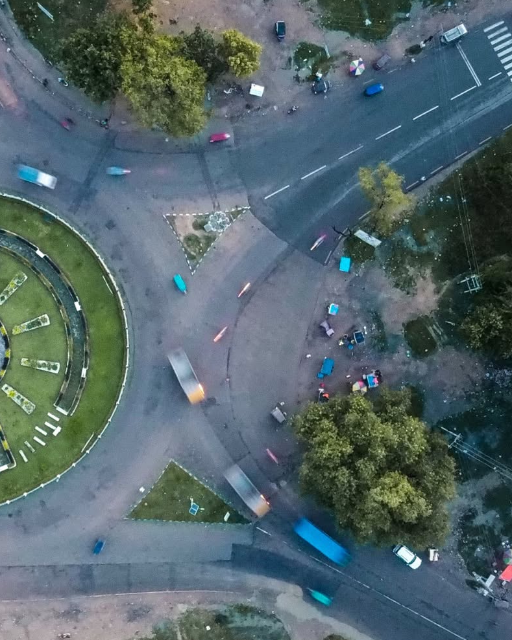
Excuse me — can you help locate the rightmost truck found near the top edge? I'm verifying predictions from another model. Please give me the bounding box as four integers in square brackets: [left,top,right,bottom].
[433,22,469,47]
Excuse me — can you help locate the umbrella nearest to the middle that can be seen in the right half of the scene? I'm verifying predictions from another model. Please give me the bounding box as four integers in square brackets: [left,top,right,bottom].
[351,378,367,394]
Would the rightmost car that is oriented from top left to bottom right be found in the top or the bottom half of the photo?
bottom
